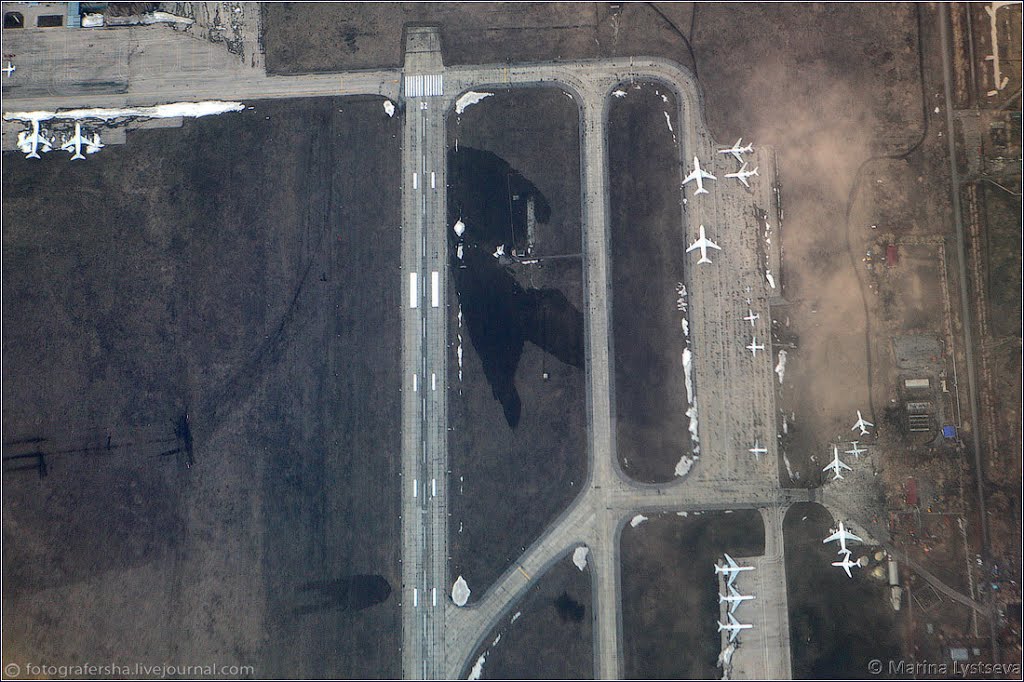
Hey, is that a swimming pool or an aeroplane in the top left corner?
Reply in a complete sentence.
There is an aeroplane in the top left corner.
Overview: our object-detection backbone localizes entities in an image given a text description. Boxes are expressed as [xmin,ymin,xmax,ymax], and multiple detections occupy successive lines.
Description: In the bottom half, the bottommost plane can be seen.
[717,612,753,641]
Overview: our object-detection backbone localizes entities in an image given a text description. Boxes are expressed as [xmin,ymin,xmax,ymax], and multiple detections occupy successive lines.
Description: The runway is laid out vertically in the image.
[402,26,447,682]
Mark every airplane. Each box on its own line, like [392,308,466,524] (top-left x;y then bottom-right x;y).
[682,156,717,194]
[714,553,755,585]
[17,119,50,159]
[686,225,721,263]
[717,612,753,641]
[61,121,95,160]
[824,521,864,555]
[725,162,760,187]
[718,584,756,611]
[823,445,852,480]
[719,137,754,162]
[832,553,863,576]
[749,439,767,461]
[852,410,874,436]
[845,442,867,458]
[746,337,764,357]
[744,309,759,326]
